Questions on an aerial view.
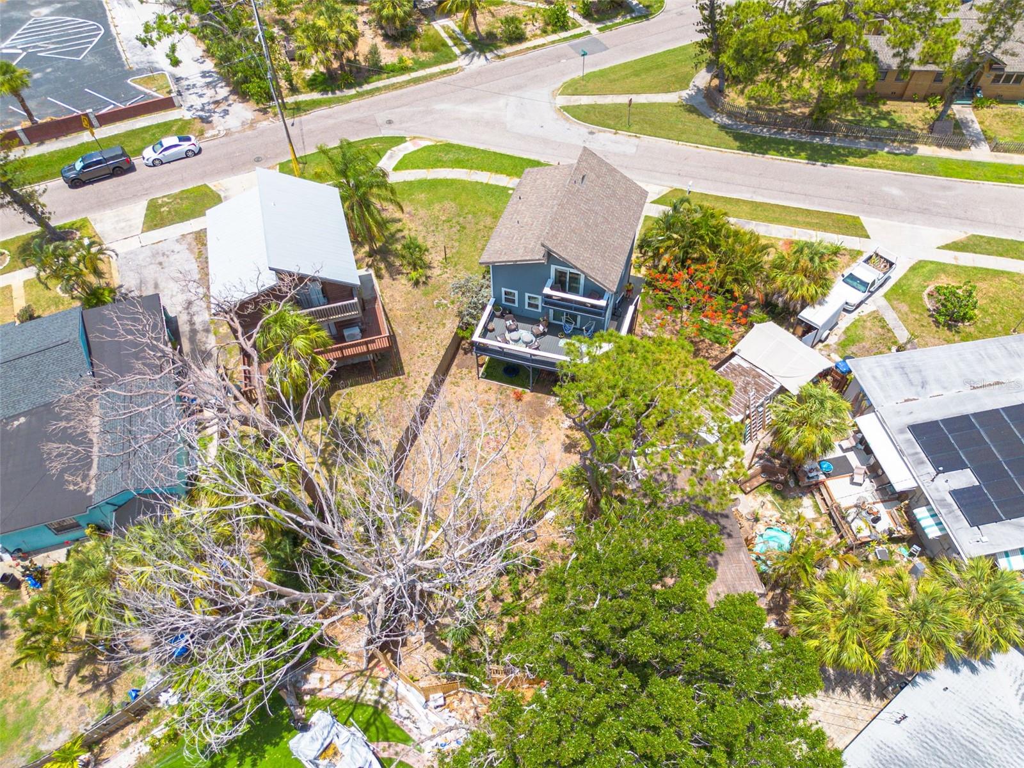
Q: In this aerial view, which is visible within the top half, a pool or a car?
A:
car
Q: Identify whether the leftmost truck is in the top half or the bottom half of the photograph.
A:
top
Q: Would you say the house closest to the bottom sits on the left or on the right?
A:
right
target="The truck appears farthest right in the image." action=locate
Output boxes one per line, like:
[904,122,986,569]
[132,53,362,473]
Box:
[839,237,909,317]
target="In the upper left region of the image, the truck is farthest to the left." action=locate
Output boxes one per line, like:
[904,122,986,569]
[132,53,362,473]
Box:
[52,136,135,185]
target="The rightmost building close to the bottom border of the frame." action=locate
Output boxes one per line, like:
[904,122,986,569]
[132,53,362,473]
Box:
[817,646,1024,768]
